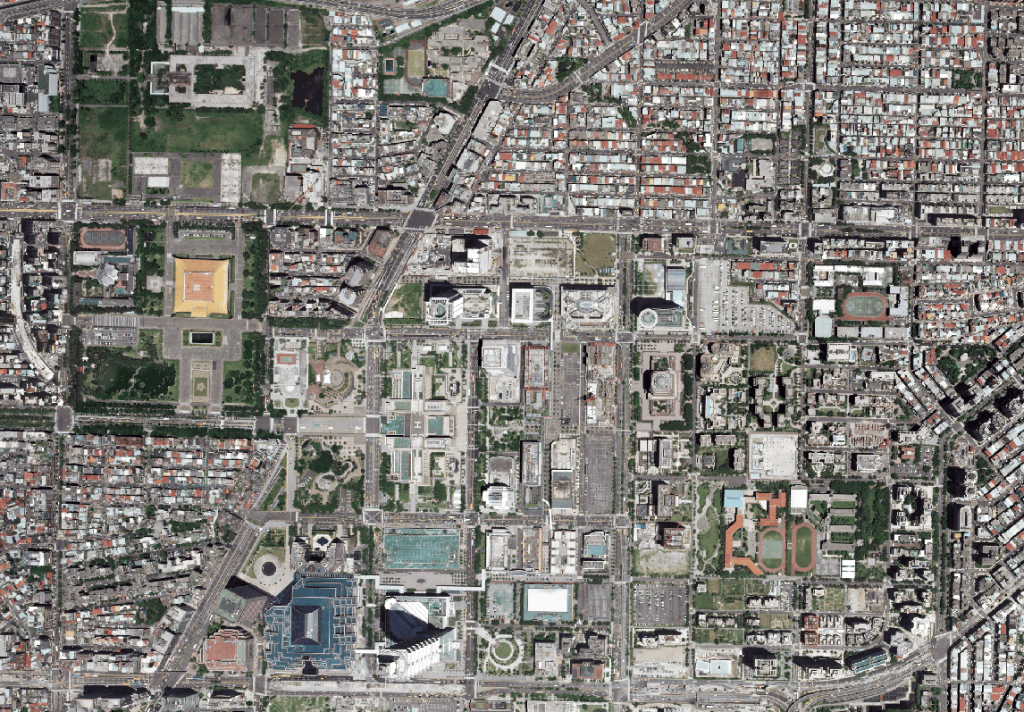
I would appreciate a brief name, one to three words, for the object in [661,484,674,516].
building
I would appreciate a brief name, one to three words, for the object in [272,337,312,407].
building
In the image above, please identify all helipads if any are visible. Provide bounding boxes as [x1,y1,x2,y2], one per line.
[411,415,429,436]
